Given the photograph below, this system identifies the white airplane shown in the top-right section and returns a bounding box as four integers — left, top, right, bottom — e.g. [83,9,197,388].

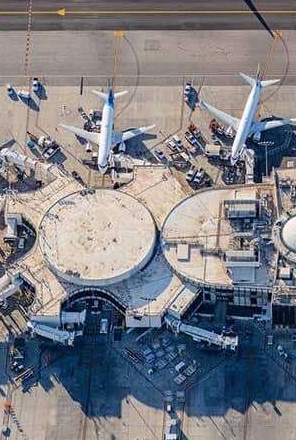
[199,64,296,165]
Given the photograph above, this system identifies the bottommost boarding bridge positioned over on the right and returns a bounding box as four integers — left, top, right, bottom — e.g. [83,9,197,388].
[161,315,244,354]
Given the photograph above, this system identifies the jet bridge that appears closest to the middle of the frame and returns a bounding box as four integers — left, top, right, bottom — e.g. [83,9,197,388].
[110,153,154,175]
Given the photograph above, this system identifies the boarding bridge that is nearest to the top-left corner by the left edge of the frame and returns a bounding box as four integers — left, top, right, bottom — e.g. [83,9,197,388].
[0,151,53,180]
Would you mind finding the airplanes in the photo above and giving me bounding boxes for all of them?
[59,83,155,175]
[199,64,296,165]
